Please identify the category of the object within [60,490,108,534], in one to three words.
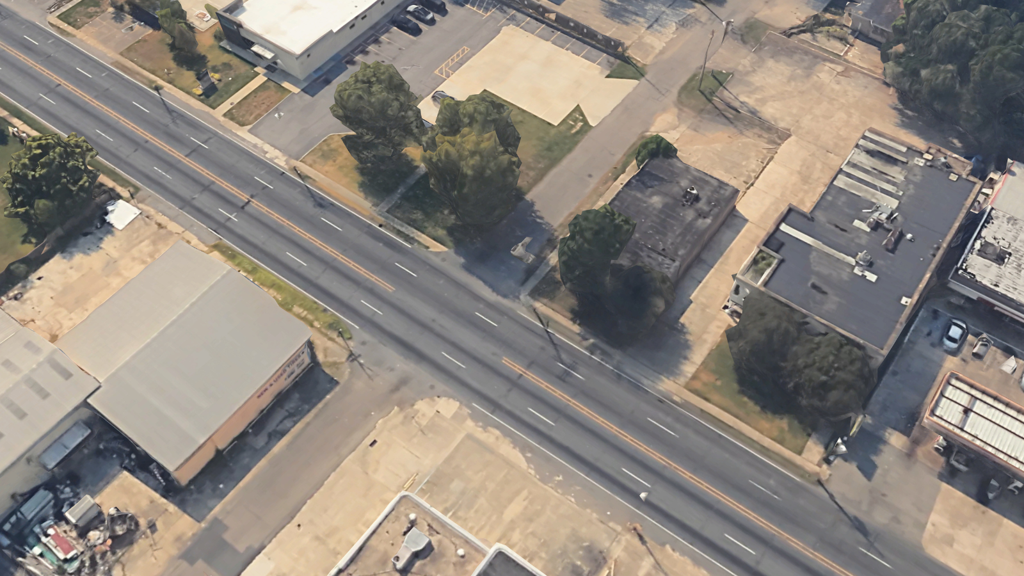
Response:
trailer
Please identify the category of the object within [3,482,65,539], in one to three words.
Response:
truck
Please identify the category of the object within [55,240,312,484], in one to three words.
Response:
building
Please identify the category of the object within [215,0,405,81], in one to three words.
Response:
building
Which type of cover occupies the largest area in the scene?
paved ground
